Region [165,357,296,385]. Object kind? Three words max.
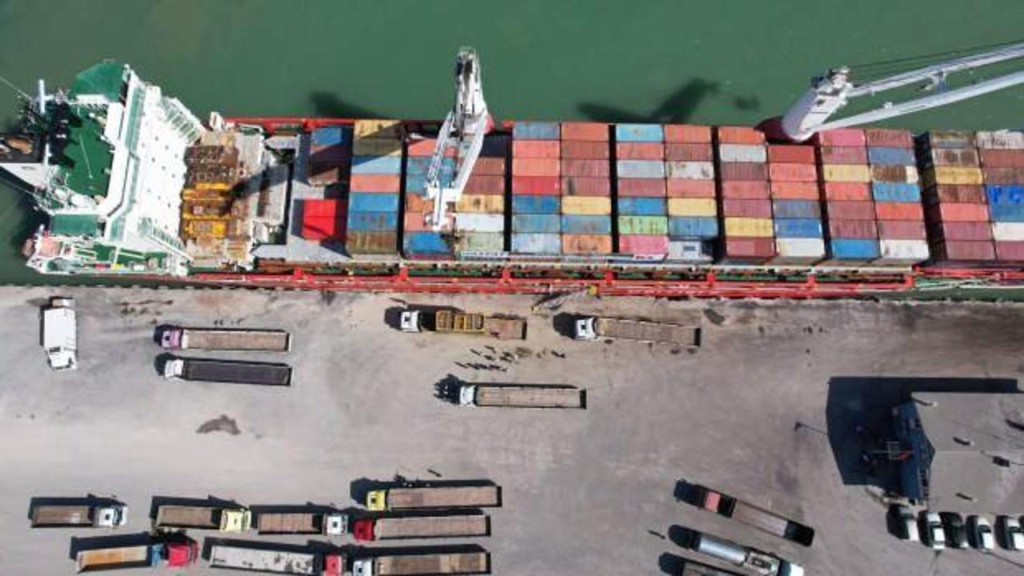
truck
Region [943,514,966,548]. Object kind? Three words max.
car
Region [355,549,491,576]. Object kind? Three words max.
truck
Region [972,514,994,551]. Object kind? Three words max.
car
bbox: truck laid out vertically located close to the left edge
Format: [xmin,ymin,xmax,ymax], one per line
[43,300,78,371]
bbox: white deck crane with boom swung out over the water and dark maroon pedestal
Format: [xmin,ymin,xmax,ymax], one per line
[752,41,1024,145]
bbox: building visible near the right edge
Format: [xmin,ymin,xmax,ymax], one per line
[891,390,1024,514]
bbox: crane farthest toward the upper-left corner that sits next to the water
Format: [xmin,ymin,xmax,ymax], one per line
[424,55,494,249]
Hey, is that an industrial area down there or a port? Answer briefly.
port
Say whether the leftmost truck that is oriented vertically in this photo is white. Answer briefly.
Yes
